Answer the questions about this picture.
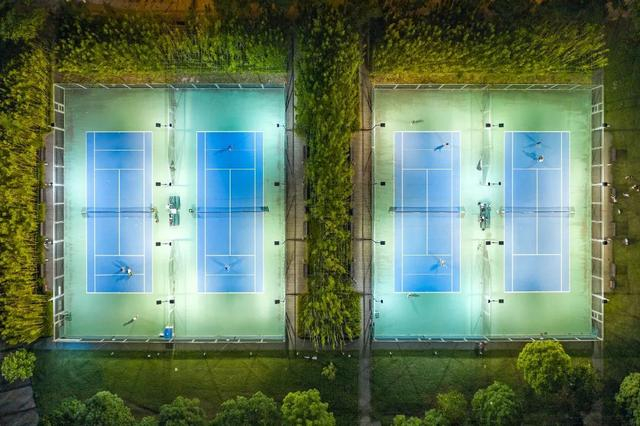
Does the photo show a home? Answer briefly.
No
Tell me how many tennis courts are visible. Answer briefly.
4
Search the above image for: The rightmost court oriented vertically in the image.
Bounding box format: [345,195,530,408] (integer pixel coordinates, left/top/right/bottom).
[483,88,592,337]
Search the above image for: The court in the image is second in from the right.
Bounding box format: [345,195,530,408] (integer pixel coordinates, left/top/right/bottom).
[374,88,483,337]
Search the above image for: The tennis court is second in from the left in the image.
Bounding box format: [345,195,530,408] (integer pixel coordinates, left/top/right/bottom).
[174,88,286,337]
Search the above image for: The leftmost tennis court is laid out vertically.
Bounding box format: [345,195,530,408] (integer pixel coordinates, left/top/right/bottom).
[64,88,174,337]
